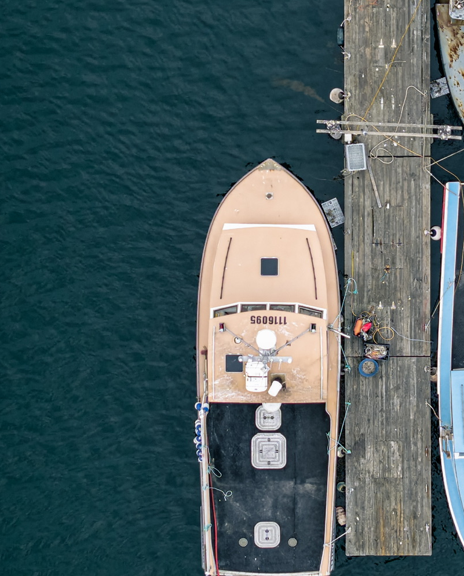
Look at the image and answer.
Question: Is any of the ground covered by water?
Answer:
Yes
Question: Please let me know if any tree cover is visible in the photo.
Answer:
No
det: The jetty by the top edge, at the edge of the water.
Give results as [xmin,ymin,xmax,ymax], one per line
[344,0,431,156]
